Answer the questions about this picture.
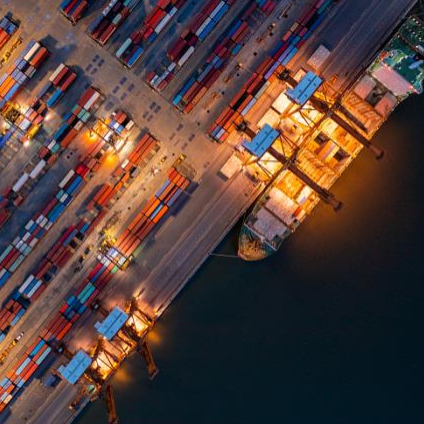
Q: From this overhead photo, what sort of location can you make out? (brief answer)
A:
port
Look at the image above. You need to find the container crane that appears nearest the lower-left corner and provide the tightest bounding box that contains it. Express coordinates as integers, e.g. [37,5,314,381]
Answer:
[52,332,126,424]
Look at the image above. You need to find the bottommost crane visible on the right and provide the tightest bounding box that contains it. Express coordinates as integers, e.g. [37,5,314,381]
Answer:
[231,119,351,221]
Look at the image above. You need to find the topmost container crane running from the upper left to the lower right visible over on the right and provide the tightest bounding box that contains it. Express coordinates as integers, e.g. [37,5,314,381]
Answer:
[273,68,393,169]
